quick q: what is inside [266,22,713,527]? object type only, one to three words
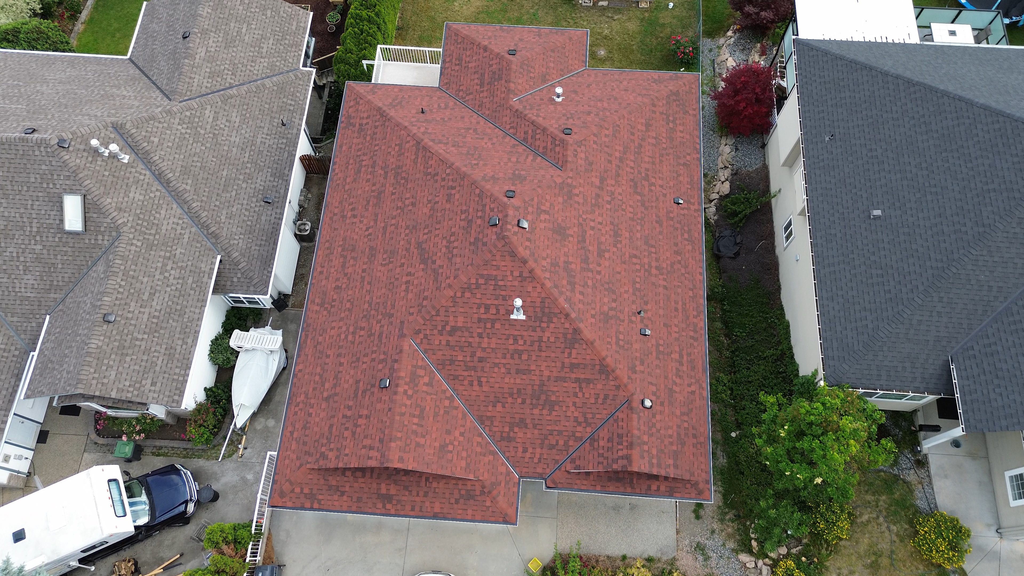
house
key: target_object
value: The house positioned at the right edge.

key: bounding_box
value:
[766,0,1024,550]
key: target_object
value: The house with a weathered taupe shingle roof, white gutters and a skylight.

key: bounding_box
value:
[0,0,322,511]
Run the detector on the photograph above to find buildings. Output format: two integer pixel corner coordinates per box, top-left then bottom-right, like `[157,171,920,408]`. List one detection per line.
[0,0,322,511]
[266,22,713,527]
[766,0,1024,550]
